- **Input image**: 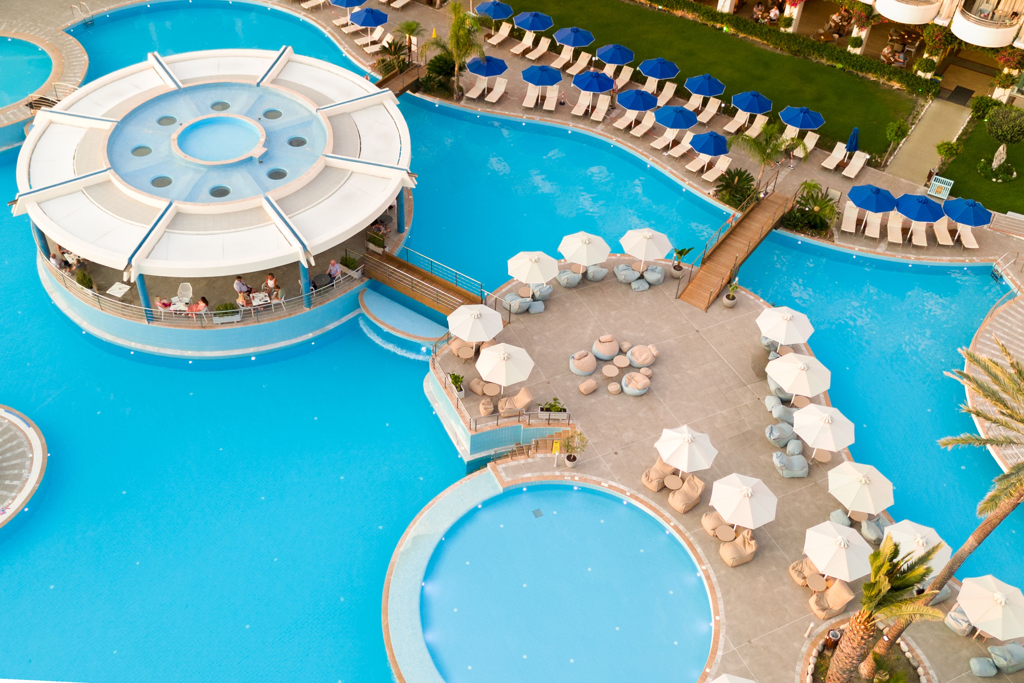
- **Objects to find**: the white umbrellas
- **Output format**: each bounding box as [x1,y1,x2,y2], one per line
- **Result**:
[449,304,506,360]
[824,464,890,524]
[621,229,672,279]
[958,576,1024,644]
[656,424,719,480]
[802,522,873,584]
[791,406,855,464]
[711,475,779,534]
[758,308,810,355]
[559,234,611,285]
[477,344,535,397]
[769,355,828,408]
[509,251,561,303]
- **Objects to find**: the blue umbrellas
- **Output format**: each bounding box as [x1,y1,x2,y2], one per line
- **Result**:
[779,107,824,142]
[514,12,553,52]
[734,92,773,131]
[942,198,991,245]
[684,75,726,116]
[330,0,365,25]
[522,66,564,109]
[555,27,595,68]
[574,73,615,115]
[896,195,943,242]
[615,89,658,132]
[350,7,390,34]
[848,185,897,232]
[640,57,682,98]
[689,131,734,175]
[467,58,508,79]
[596,45,636,81]
[841,128,858,171]
[476,0,515,24]
[654,106,698,150]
